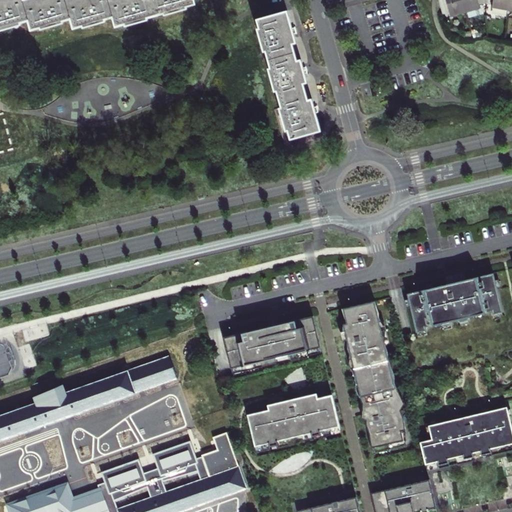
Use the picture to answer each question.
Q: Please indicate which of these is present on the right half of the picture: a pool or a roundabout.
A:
roundabout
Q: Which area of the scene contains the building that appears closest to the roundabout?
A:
top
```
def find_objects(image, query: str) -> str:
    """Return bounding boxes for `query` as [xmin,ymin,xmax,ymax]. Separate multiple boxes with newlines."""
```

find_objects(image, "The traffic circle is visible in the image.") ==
[308,150,418,220]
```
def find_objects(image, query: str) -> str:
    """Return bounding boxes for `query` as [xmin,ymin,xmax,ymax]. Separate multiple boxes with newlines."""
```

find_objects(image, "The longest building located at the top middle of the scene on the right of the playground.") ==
[256,11,321,142]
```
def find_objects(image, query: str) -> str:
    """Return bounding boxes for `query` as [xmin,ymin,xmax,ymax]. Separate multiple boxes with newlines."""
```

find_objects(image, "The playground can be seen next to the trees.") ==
[46,76,158,122]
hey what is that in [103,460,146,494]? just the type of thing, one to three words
building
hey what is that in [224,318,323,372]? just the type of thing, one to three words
building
